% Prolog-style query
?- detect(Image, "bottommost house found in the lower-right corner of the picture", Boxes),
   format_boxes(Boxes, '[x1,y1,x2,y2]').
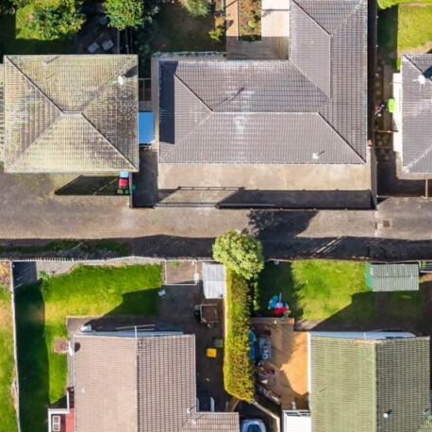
[304,330,432,432]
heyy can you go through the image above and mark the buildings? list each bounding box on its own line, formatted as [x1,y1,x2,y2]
[156,0,369,166]
[199,260,226,298]
[391,52,432,176]
[304,330,432,432]
[71,327,241,432]
[361,263,421,291]
[0,52,140,175]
